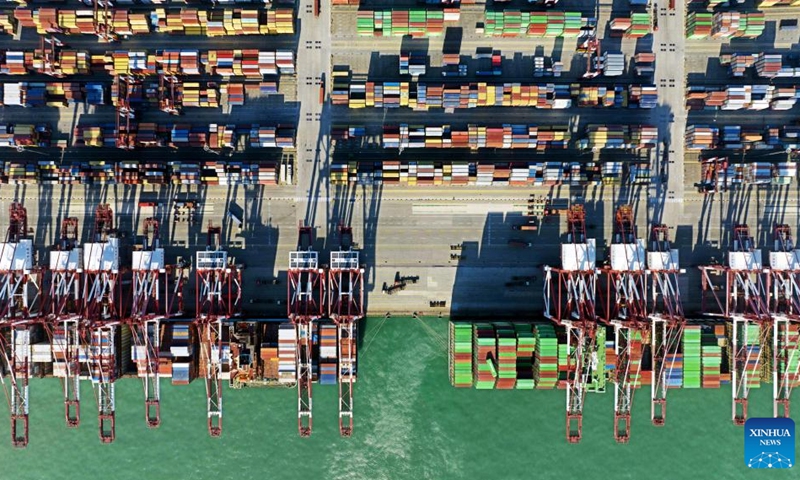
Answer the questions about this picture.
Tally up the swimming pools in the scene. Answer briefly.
none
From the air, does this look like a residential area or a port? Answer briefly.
port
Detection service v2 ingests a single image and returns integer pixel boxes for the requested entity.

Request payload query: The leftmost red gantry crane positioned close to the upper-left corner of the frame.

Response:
[39,40,73,84]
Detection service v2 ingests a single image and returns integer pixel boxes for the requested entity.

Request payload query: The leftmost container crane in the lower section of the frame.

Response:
[0,205,80,444]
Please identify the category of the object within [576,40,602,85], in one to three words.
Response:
container crane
